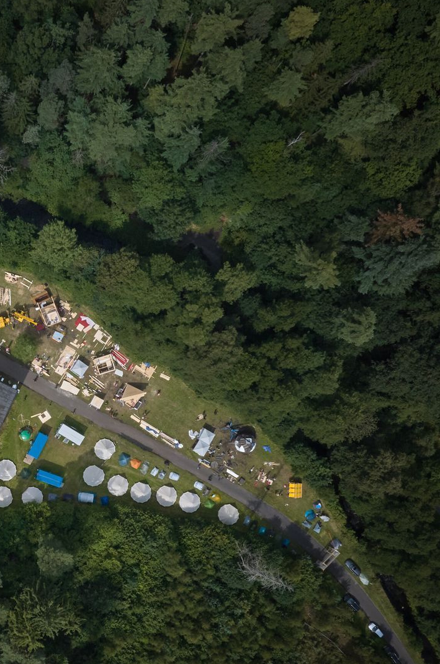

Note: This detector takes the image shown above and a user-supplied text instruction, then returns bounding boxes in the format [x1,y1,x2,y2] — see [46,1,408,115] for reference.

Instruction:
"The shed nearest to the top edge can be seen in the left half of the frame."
[36,296,62,327]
